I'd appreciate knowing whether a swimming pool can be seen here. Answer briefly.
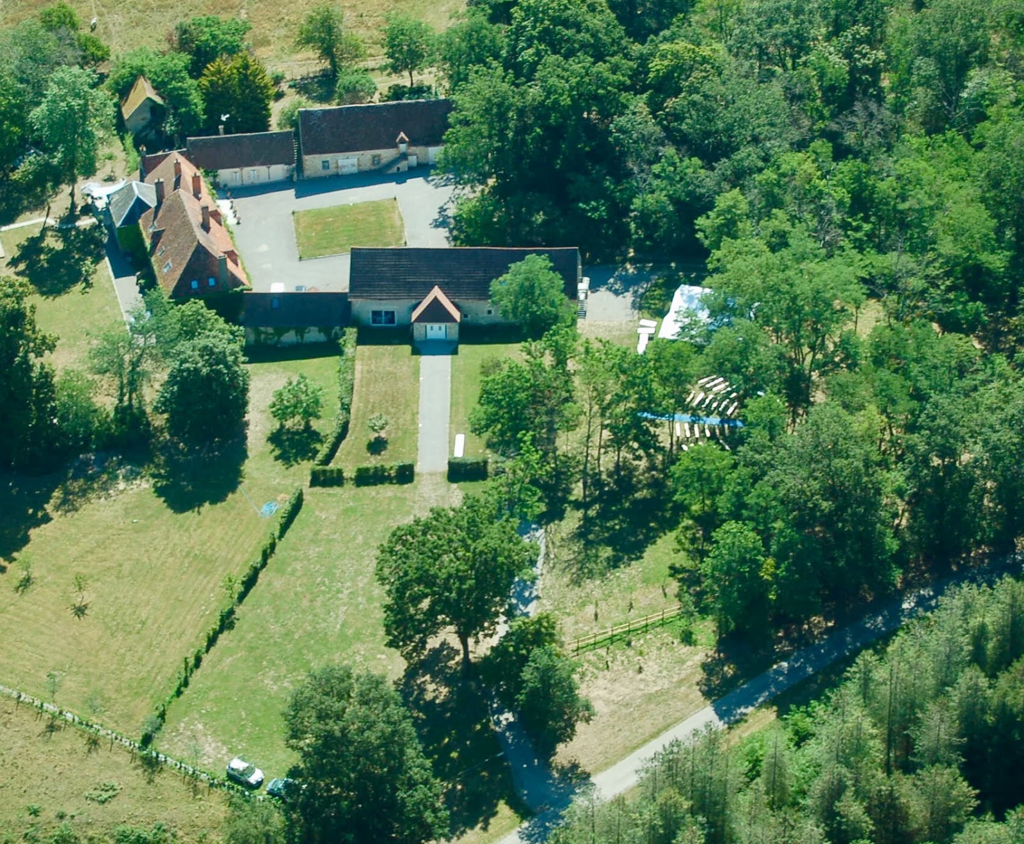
No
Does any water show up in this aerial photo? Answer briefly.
No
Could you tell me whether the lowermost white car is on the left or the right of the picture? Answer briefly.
left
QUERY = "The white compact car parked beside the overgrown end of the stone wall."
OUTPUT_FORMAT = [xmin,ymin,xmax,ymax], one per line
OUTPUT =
[228,759,262,786]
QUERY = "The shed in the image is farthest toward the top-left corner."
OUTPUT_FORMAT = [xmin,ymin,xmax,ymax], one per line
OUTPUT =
[111,80,164,135]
